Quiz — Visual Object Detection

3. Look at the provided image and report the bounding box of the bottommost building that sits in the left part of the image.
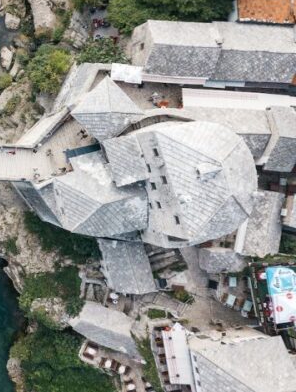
[59,299,145,362]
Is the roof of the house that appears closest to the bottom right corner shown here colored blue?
No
